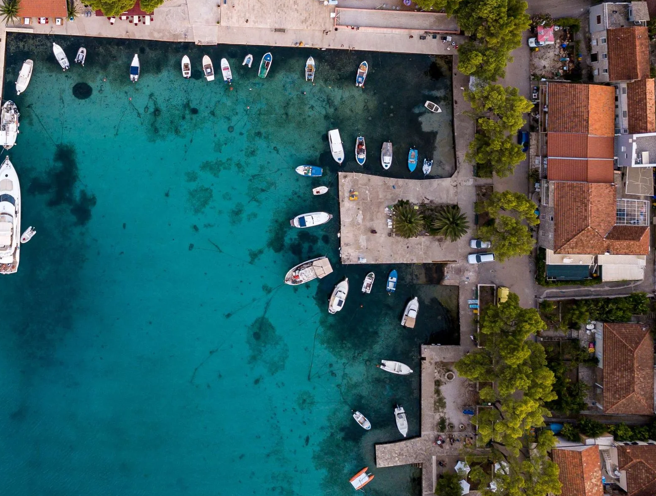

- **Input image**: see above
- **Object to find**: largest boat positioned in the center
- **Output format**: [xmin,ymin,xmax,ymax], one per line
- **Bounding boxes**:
[284,257,335,285]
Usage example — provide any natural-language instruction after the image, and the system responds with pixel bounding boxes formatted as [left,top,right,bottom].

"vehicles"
[466,252,496,264]
[496,285,511,308]
[527,36,555,48]
[468,239,491,249]
[516,130,530,153]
